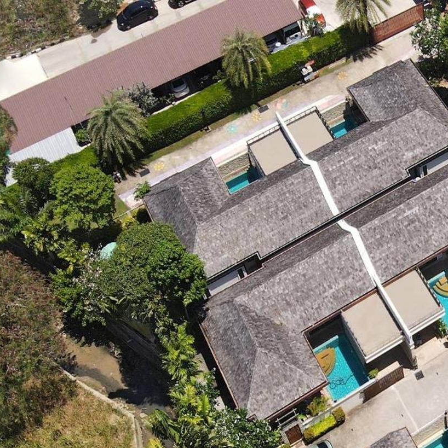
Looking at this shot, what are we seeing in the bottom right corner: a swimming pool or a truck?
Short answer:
swimming pool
